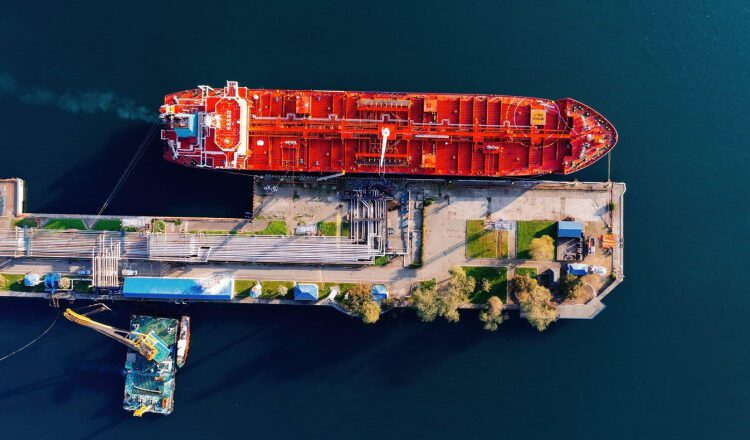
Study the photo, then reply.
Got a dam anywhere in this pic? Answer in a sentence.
No, there's no dam here.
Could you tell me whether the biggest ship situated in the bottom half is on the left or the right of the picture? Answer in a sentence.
The biggest ship situated in the bottom half is on the left side of the image.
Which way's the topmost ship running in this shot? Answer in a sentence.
The topmost ship has been laid out horizontally relative to the frame.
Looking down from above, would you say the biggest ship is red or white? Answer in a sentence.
In this view, the biggest ship is red.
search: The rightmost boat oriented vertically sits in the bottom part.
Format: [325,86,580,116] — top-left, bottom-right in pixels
[177,315,192,368]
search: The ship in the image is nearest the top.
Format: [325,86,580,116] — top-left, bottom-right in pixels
[158,79,620,177]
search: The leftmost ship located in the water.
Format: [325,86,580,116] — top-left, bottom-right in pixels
[64,302,180,418]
